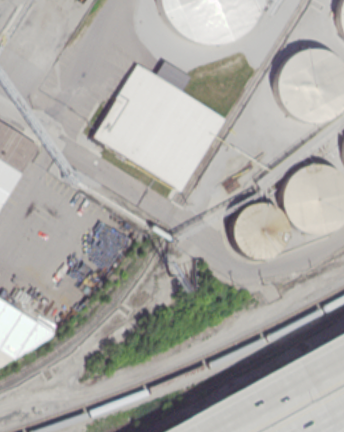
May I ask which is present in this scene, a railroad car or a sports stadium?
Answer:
railroad car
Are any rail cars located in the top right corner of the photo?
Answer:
No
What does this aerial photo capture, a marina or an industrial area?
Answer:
industrial area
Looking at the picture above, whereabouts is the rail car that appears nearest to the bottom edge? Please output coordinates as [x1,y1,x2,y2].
[25,412,88,432]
